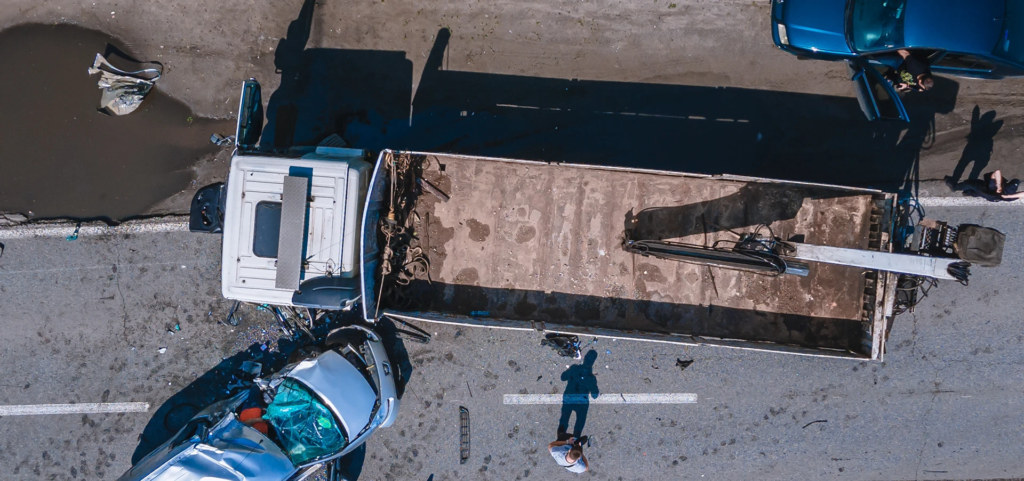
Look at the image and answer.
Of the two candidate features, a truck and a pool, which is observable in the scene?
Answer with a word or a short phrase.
truck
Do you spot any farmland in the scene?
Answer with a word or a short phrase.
No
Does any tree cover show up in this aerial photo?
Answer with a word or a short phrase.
No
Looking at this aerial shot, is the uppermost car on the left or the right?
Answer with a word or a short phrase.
right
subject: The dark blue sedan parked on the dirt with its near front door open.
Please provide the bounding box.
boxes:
[767,0,1024,121]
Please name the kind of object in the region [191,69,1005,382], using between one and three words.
truck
